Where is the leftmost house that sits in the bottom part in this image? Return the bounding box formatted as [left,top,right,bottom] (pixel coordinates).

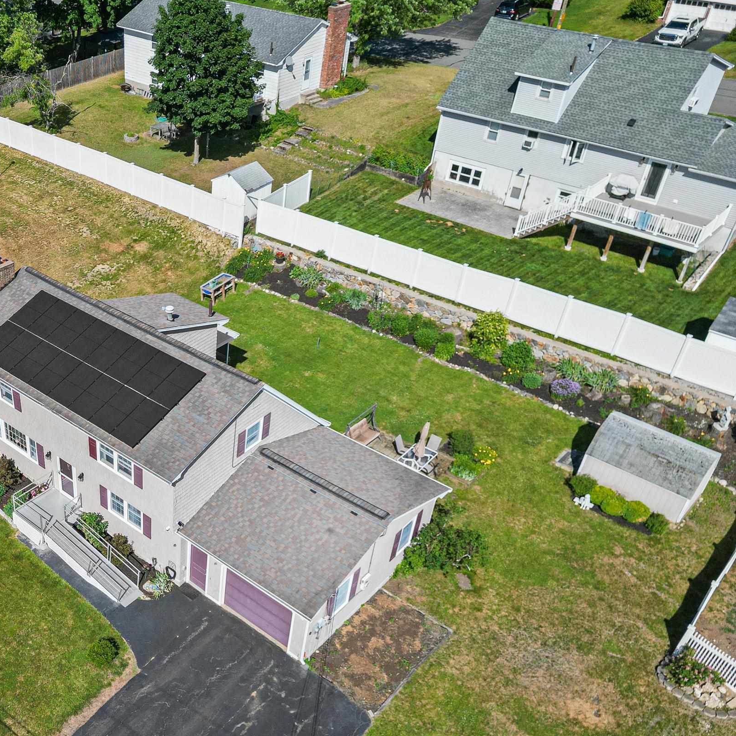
[0,253,457,664]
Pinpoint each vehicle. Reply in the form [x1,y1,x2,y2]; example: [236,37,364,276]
[661,8,712,43]
[493,0,540,16]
